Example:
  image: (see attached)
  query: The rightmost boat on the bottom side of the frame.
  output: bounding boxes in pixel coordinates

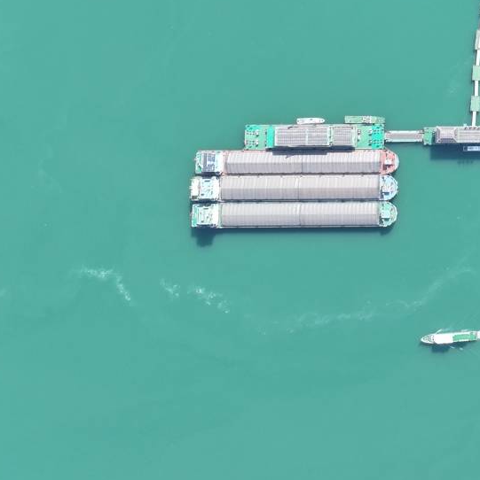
[421,330,479,346]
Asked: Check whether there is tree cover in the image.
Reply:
No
